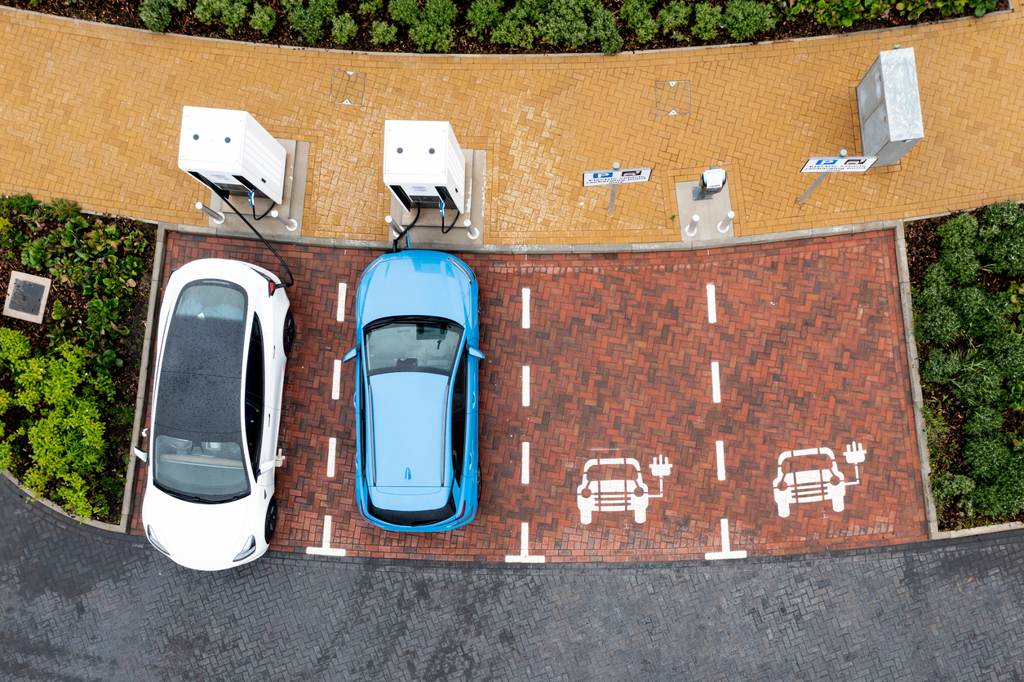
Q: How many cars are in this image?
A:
two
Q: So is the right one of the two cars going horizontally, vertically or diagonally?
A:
vertically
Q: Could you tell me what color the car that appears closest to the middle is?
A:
blue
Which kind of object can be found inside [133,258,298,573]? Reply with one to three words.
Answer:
car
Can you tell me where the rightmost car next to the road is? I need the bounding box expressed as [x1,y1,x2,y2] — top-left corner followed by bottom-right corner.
[342,230,489,535]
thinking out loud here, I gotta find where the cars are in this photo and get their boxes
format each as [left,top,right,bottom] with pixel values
[133,258,298,573]
[342,230,489,535]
